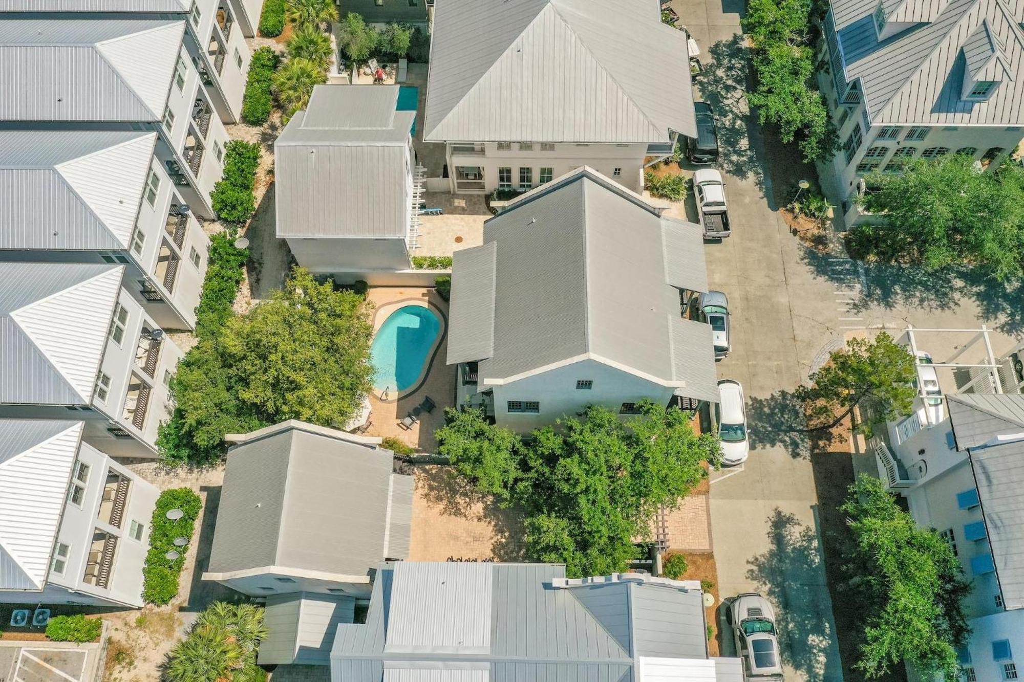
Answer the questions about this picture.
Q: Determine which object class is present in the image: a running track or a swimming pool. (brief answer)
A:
swimming pool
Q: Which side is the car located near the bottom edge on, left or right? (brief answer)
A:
right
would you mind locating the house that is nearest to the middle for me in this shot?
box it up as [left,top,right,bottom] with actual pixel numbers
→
[447,176,718,425]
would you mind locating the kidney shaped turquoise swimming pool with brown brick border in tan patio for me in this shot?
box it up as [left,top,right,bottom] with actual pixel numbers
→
[356,292,450,406]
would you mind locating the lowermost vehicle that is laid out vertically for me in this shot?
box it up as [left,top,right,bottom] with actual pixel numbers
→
[731,594,783,682]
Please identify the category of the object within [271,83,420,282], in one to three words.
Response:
house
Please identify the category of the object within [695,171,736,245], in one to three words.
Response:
truck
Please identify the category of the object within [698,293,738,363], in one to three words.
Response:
car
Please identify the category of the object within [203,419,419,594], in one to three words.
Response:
building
